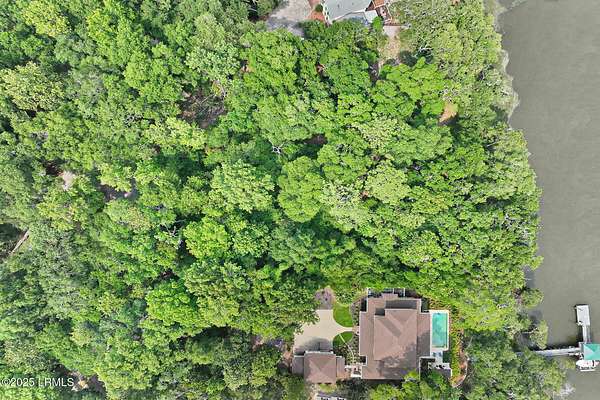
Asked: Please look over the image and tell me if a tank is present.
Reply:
No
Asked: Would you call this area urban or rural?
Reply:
rural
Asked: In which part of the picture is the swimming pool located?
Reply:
bottom right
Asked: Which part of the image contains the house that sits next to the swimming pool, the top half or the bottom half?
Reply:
bottom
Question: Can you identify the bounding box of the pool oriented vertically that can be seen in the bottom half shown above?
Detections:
[431,310,451,351]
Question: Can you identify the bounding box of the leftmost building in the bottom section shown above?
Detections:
[292,349,345,384]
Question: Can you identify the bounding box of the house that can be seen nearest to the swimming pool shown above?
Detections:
[356,290,430,380]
